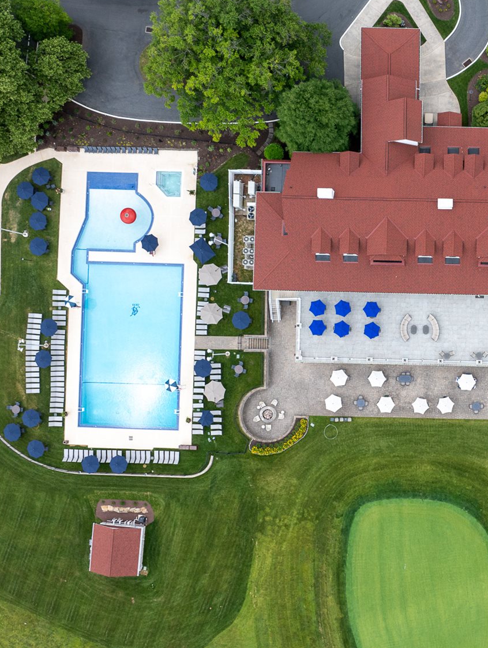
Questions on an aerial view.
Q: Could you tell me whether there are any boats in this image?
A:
No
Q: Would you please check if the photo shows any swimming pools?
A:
Yes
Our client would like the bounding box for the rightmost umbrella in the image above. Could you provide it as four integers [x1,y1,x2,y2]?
[455,373,476,391]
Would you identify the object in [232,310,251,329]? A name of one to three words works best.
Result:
umbrella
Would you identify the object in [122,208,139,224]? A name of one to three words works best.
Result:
fountain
